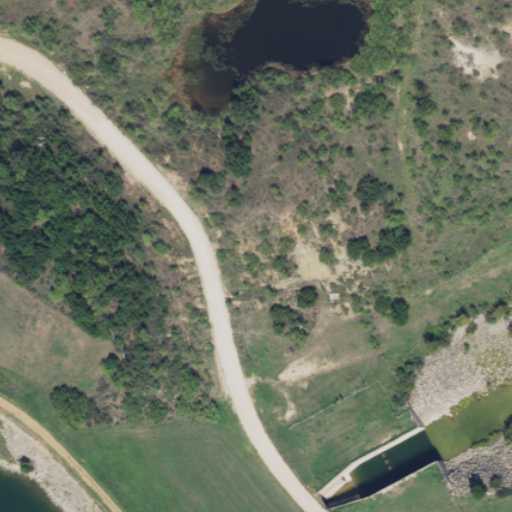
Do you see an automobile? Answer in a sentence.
No, this view has no automobile in it.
